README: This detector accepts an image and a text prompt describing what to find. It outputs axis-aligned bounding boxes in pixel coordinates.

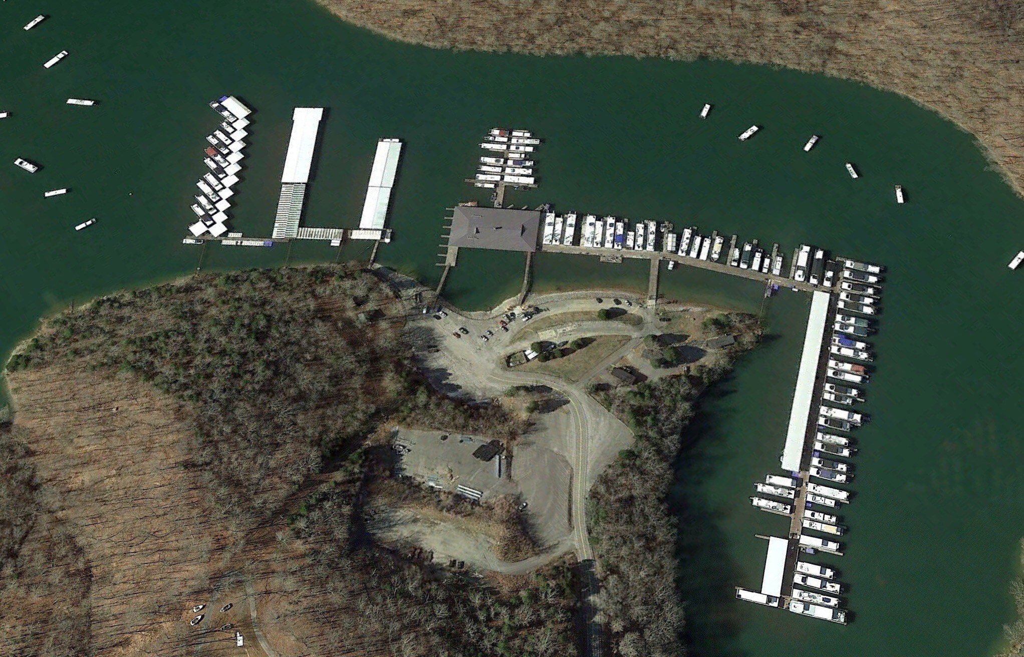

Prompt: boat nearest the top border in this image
[25,15,46,31]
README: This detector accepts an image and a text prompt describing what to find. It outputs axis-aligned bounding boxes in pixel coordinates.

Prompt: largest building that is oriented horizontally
[448,206,541,253]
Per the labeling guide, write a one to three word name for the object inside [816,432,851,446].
boat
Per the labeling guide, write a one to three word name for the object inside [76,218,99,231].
boat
